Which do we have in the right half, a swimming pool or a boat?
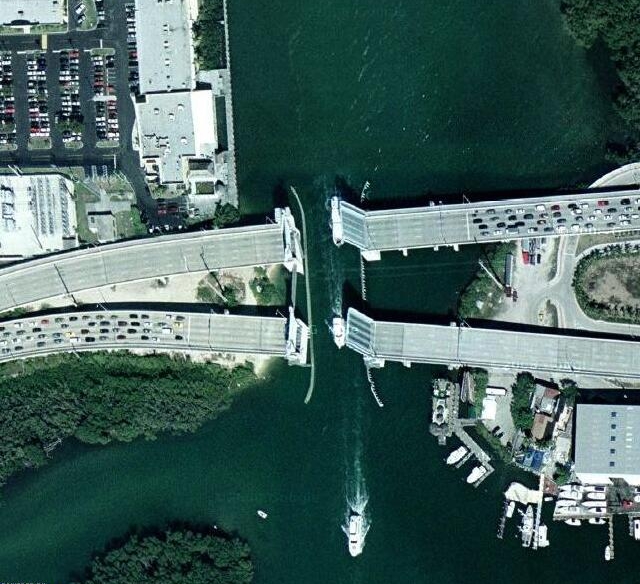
boat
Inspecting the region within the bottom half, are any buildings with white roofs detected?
Yes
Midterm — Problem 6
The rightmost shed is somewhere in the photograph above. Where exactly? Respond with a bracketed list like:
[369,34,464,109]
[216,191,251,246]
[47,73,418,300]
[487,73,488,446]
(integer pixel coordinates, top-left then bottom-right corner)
[574,405,640,481]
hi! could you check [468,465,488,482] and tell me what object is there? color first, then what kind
white boat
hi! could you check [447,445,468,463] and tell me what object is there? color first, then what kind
white boat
